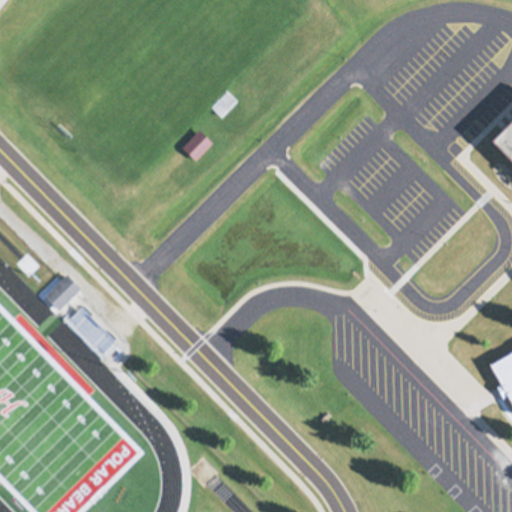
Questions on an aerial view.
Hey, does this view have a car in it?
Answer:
No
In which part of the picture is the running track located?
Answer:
bottom left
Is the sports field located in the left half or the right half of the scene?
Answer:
left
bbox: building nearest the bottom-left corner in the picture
[38,275,80,310]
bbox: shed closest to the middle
[184,131,213,162]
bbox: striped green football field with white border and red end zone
[0,286,160,512]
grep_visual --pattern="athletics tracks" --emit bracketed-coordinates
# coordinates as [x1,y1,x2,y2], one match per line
[0,255,182,512]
